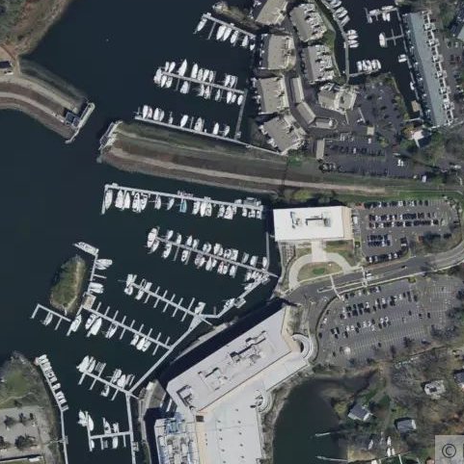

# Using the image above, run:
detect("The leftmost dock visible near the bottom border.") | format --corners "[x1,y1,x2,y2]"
[40,366,68,464]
